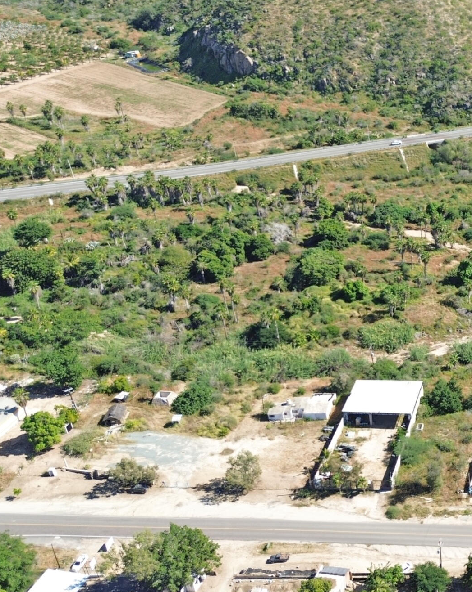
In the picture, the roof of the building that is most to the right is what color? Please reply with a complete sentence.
From above, the roof of the building that is most to the right looks white.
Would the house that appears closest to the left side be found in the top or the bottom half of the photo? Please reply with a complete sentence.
The house that appears closest to the left side is in the bottom half of the image.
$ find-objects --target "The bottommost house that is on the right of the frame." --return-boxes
[318,566,350,592]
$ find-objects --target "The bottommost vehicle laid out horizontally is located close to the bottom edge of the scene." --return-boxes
[265,553,290,565]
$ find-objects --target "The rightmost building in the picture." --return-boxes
[342,380,422,428]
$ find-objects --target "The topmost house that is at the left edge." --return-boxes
[0,398,21,437]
